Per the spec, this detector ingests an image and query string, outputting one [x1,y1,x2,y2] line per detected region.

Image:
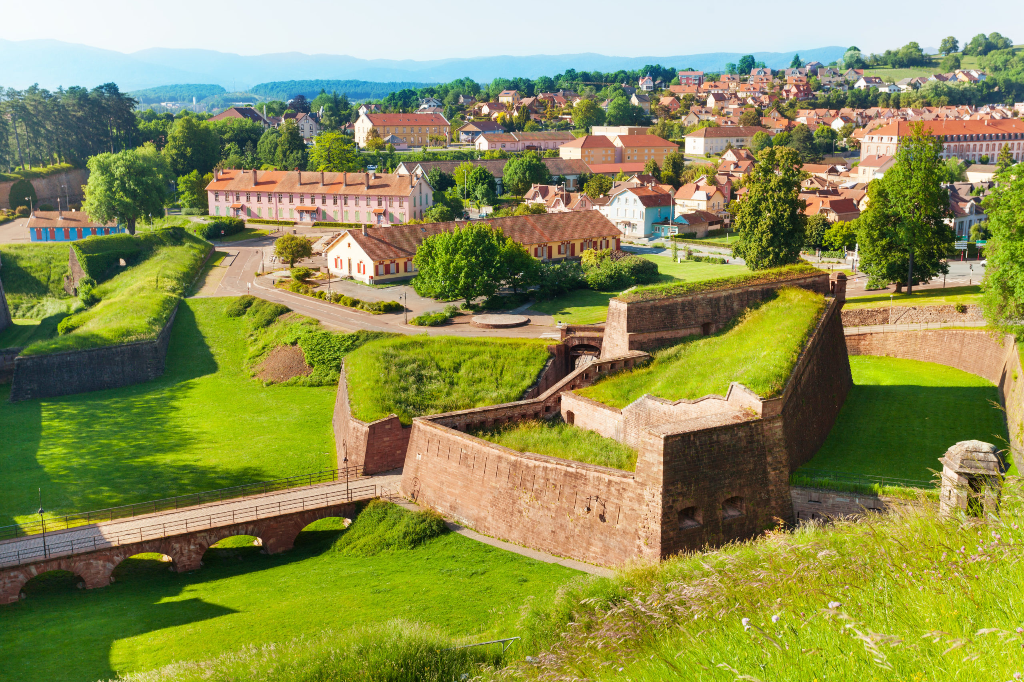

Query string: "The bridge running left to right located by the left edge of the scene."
[0,479,395,607]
